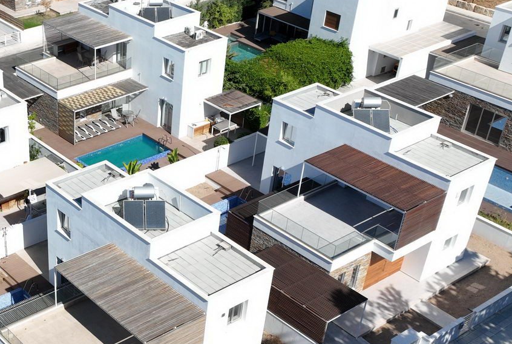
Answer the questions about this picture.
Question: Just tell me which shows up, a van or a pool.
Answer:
pool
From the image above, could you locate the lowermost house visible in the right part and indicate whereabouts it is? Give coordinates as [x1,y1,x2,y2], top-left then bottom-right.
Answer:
[224,84,497,292]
